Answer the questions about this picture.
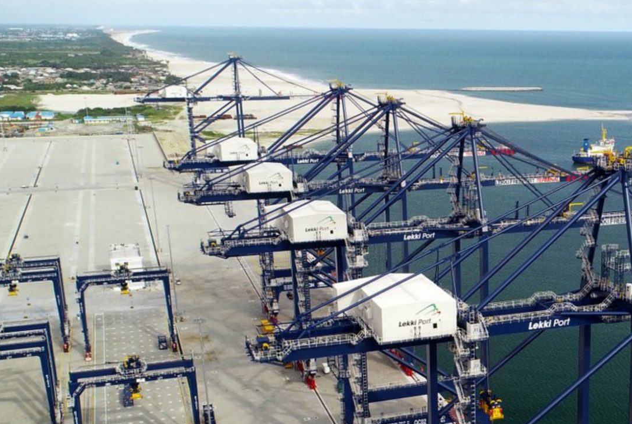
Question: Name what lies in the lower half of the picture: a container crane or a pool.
container crane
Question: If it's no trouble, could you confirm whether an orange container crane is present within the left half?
No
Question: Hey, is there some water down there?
Yes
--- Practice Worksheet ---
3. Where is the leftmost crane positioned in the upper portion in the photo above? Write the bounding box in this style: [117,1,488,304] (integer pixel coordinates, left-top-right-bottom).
[133,53,326,191]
